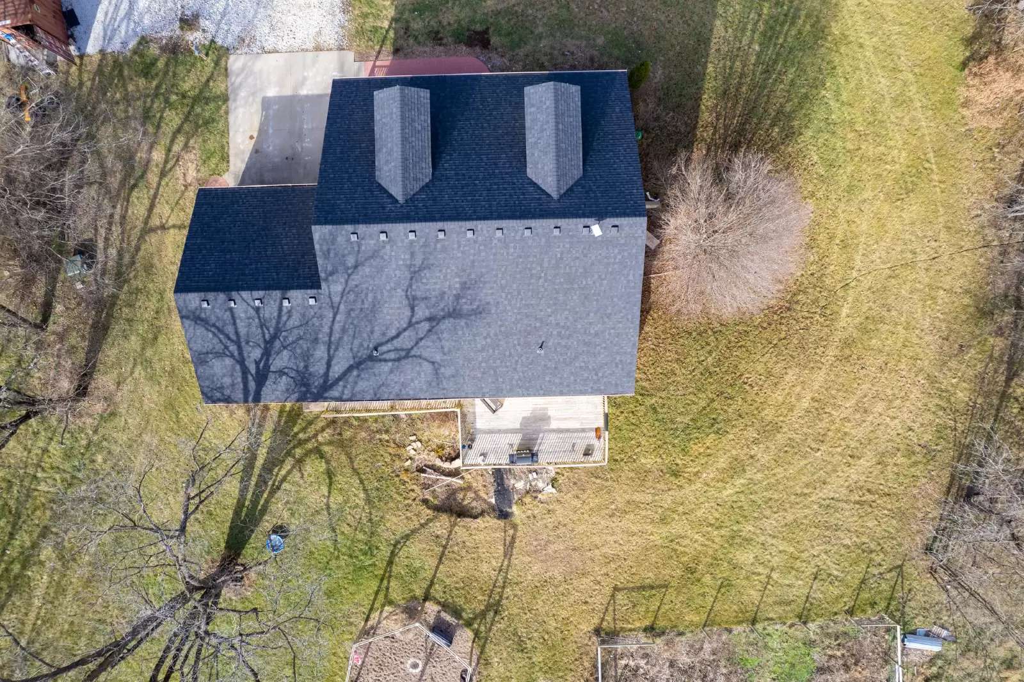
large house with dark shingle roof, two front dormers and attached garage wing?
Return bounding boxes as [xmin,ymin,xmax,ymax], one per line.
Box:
[174,68,647,405]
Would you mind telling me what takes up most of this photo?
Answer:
grass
